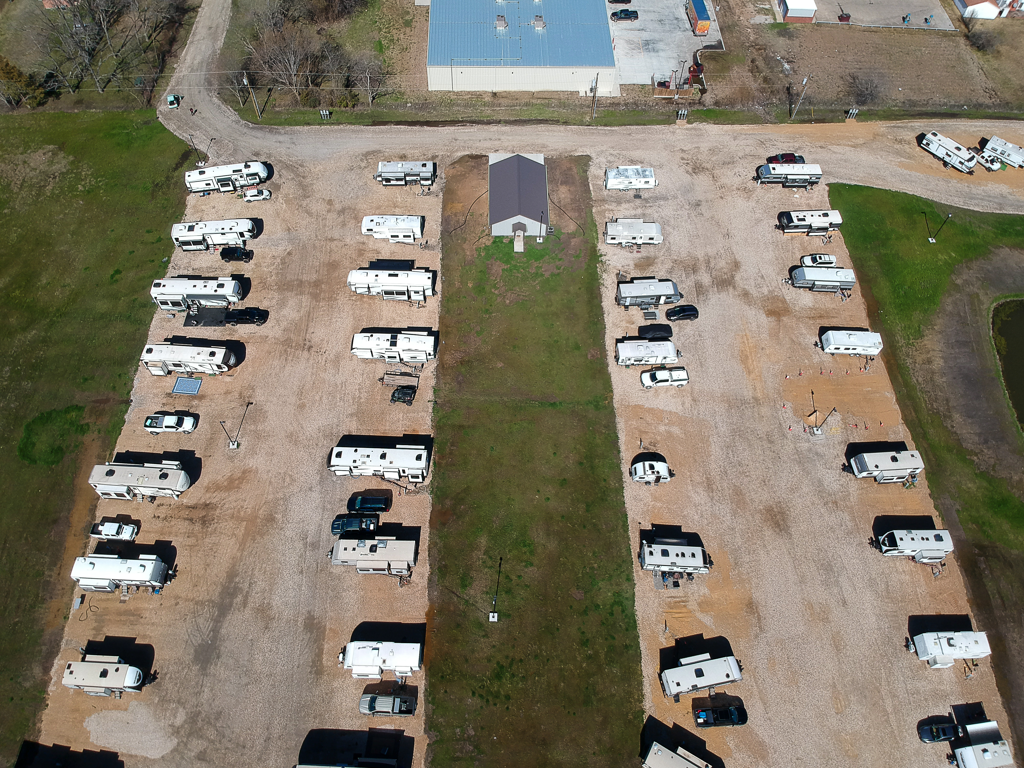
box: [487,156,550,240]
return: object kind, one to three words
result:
building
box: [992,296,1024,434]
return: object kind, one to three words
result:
pond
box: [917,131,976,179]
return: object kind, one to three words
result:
vehicle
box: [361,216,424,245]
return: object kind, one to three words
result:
camper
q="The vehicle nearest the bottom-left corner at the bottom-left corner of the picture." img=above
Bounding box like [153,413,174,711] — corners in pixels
[62,651,164,701]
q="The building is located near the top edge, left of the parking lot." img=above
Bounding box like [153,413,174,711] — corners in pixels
[425,0,617,91]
